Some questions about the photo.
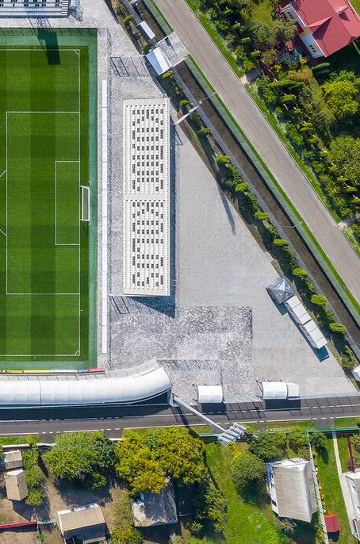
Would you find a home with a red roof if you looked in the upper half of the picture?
Yes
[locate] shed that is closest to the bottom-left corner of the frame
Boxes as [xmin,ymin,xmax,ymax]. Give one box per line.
[4,468,25,500]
